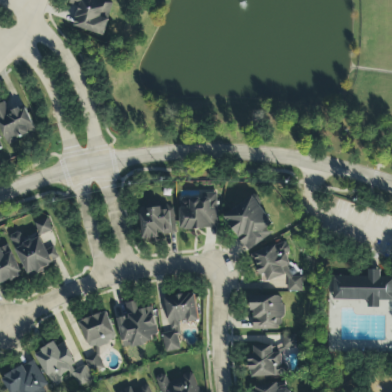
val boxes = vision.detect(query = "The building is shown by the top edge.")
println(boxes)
[70,0,117,36]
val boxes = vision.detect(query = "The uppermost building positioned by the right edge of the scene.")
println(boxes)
[330,268,392,306]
